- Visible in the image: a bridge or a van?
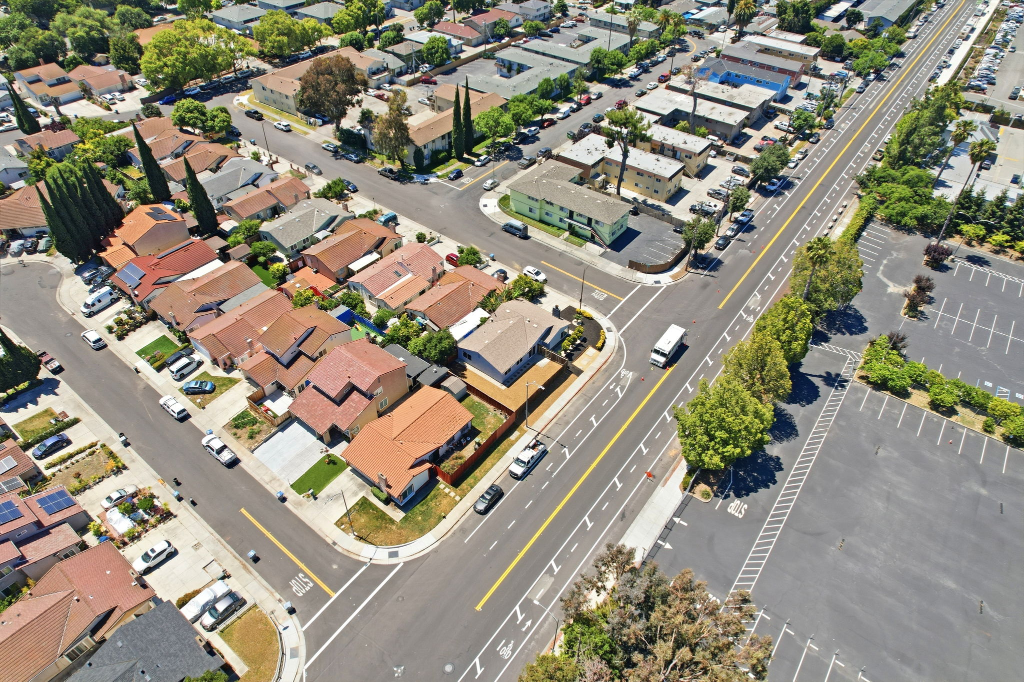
van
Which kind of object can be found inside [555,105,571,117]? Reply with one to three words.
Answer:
vehicle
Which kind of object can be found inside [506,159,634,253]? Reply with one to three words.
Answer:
building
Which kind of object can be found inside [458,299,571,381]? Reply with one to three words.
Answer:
house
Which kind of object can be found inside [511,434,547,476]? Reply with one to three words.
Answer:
truck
